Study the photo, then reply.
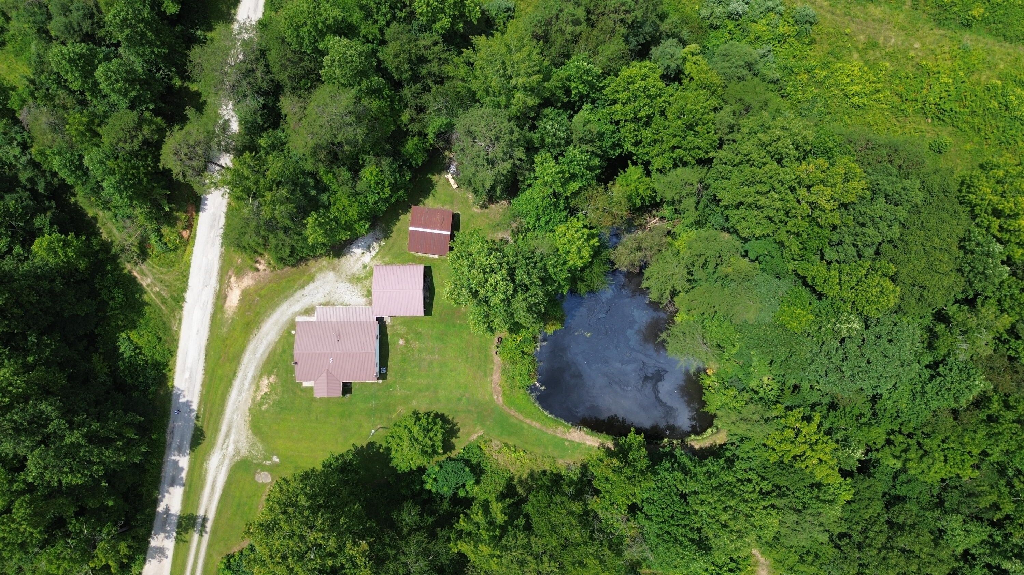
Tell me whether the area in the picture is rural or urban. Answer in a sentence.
The land in this view is best described as rural.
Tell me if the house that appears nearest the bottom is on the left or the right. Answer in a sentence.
It is on the left.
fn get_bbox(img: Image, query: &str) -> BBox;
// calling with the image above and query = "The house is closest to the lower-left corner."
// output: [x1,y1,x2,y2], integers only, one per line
[292,307,380,397]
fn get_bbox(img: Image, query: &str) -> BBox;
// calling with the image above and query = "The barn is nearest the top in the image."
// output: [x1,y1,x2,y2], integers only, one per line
[408,205,452,256]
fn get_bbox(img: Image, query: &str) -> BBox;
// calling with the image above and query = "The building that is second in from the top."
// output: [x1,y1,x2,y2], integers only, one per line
[372,265,424,316]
